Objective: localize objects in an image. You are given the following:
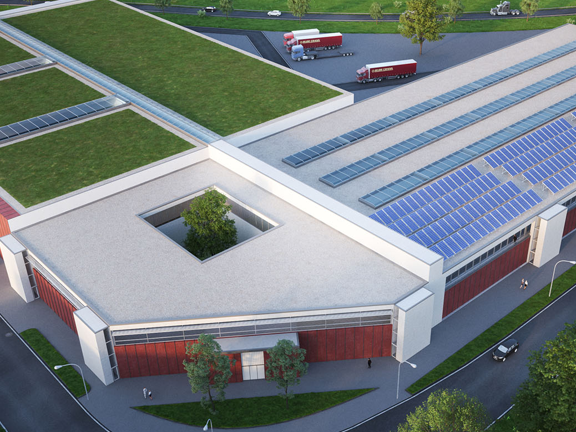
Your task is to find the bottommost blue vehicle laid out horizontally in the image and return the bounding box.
[293,45,351,60]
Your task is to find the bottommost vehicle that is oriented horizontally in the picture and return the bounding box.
[354,59,414,84]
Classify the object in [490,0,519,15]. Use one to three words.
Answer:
vehicle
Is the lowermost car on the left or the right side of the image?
right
